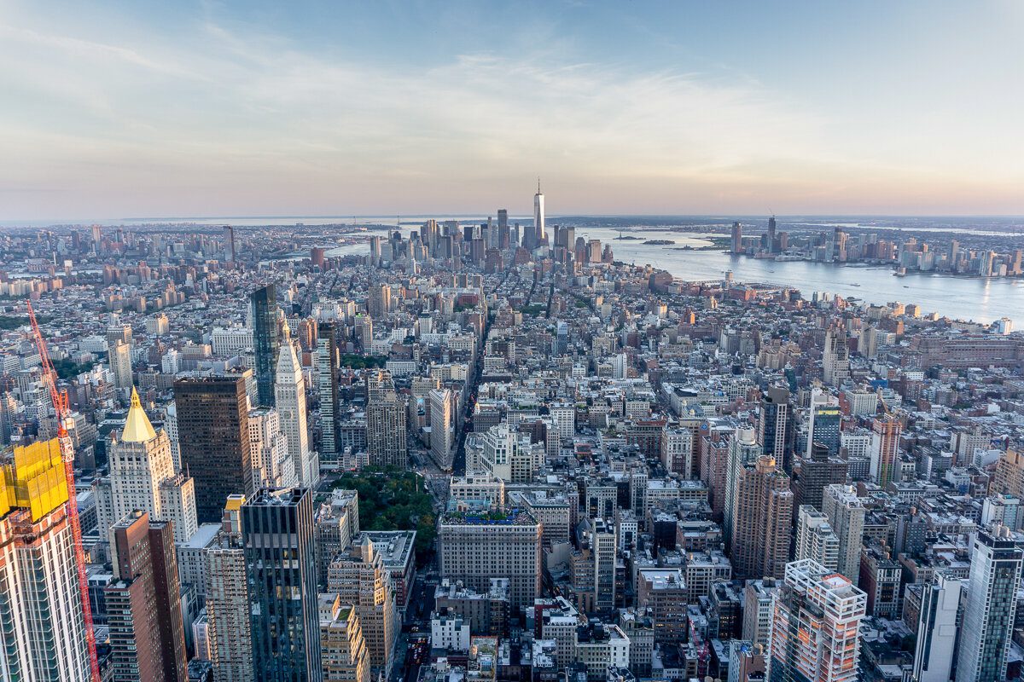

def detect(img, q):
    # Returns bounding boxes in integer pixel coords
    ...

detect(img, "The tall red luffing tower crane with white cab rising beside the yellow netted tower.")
[25,300,106,682]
